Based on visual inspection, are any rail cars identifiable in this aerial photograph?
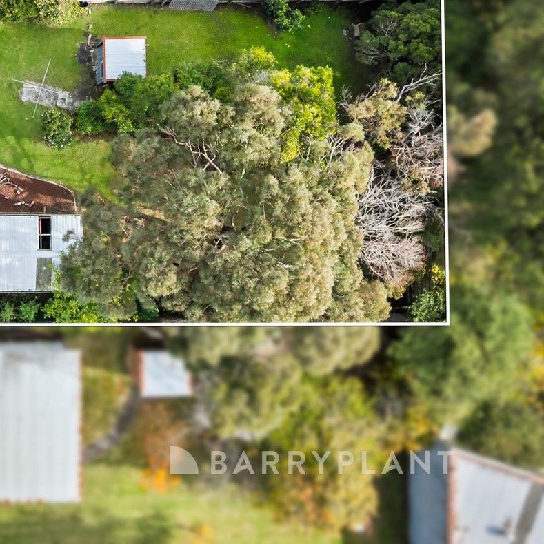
No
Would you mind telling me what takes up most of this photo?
trees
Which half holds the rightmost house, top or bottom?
bottom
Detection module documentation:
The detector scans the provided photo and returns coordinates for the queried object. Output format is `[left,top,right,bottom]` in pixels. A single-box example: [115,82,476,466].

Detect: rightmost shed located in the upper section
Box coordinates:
[97,36,149,85]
